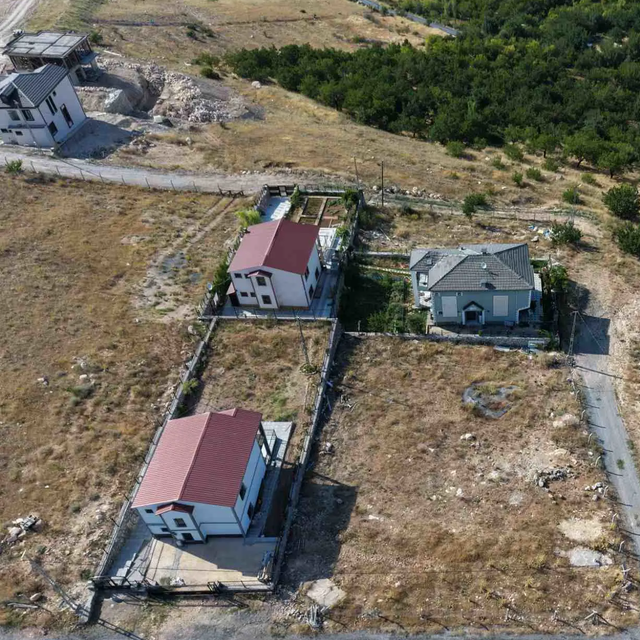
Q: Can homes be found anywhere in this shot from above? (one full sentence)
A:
Yes, the picture does show a home.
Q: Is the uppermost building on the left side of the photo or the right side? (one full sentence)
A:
The uppermost building appears in the left half of the scene.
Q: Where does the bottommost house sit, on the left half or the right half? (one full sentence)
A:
The bottommost house is on the left side of the image.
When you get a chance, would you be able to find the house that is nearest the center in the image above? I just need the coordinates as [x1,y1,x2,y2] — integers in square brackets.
[225,217,324,310]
